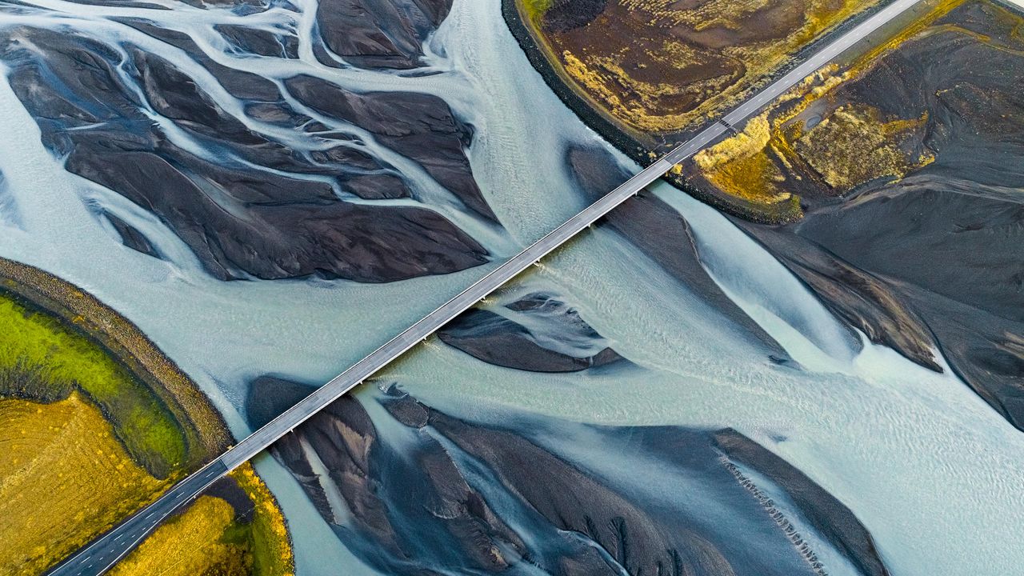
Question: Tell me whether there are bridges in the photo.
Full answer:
Yes, a bridge can be made out from above.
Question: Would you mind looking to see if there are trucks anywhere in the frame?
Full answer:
No, the frame has no truck in it.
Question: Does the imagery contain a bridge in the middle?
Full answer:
Yes, looking in the middle, one can make out a bridge.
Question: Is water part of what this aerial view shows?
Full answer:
Yes, water can be seen from above here.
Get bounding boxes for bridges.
[219,157,673,472]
